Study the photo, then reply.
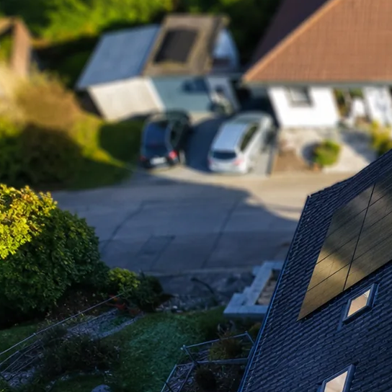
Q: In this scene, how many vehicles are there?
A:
2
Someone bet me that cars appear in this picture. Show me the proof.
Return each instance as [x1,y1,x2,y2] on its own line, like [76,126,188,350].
[208,100,282,170]
[146,101,212,160]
